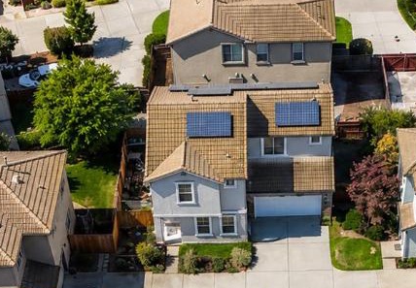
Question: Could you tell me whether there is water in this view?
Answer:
No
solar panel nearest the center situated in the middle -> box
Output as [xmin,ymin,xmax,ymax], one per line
[185,109,232,136]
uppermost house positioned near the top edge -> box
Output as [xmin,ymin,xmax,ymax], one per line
[164,0,337,85]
